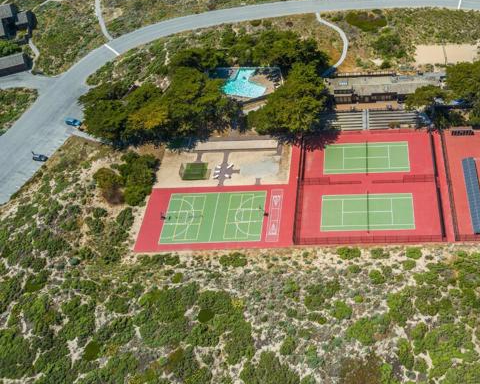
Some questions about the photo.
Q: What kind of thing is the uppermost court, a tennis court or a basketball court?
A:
tennis court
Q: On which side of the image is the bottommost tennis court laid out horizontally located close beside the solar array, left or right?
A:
right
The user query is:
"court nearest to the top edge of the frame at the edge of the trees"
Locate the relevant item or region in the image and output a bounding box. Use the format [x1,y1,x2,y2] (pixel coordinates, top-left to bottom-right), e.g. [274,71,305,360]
[298,128,439,185]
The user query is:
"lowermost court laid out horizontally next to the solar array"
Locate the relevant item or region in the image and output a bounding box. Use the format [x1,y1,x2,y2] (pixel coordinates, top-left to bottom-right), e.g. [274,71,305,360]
[294,181,448,247]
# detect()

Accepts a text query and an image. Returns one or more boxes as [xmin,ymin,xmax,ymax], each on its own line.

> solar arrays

[461,156,480,235]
